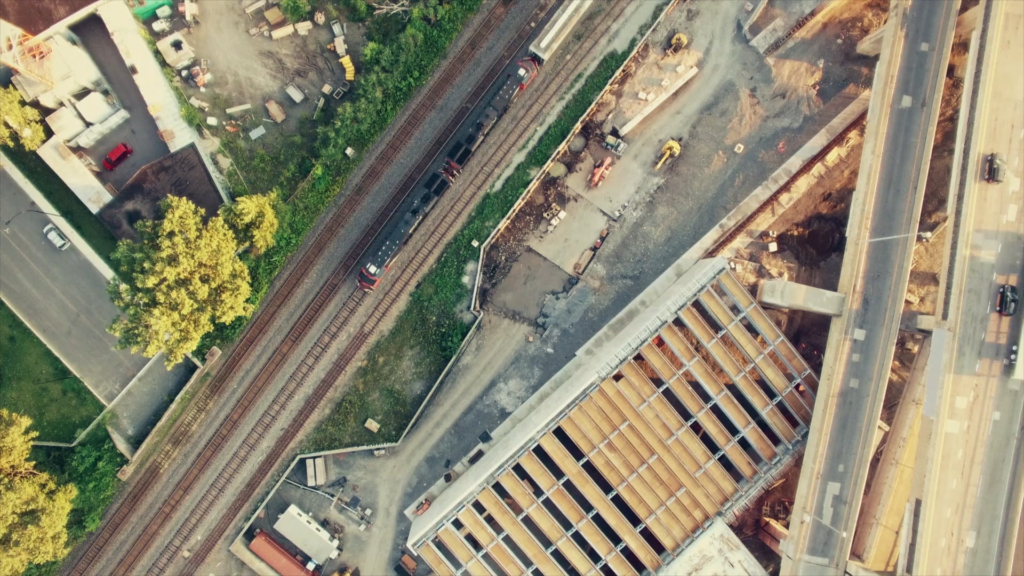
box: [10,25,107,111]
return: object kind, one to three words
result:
building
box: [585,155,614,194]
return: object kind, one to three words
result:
work vehicle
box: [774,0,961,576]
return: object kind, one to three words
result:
overpass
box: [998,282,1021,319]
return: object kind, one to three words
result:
car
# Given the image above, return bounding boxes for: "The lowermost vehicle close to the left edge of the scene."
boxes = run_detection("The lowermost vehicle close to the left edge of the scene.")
[41,221,68,252]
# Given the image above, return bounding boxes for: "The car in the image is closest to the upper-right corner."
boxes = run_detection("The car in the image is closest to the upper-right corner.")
[987,149,1011,186]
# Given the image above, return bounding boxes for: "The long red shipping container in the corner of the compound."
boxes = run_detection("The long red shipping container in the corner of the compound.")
[240,527,319,576]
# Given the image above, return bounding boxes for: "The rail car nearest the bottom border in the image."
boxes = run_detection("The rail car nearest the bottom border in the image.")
[358,167,459,295]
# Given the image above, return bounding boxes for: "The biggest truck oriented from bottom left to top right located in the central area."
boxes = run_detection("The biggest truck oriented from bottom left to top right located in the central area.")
[575,217,619,276]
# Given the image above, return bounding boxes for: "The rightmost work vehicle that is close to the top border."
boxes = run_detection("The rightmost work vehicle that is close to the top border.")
[662,27,693,58]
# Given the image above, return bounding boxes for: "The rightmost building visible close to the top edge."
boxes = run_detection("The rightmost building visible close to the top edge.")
[97,1,233,211]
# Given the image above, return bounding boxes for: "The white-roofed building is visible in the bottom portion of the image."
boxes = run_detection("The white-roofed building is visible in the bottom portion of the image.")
[268,501,344,569]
